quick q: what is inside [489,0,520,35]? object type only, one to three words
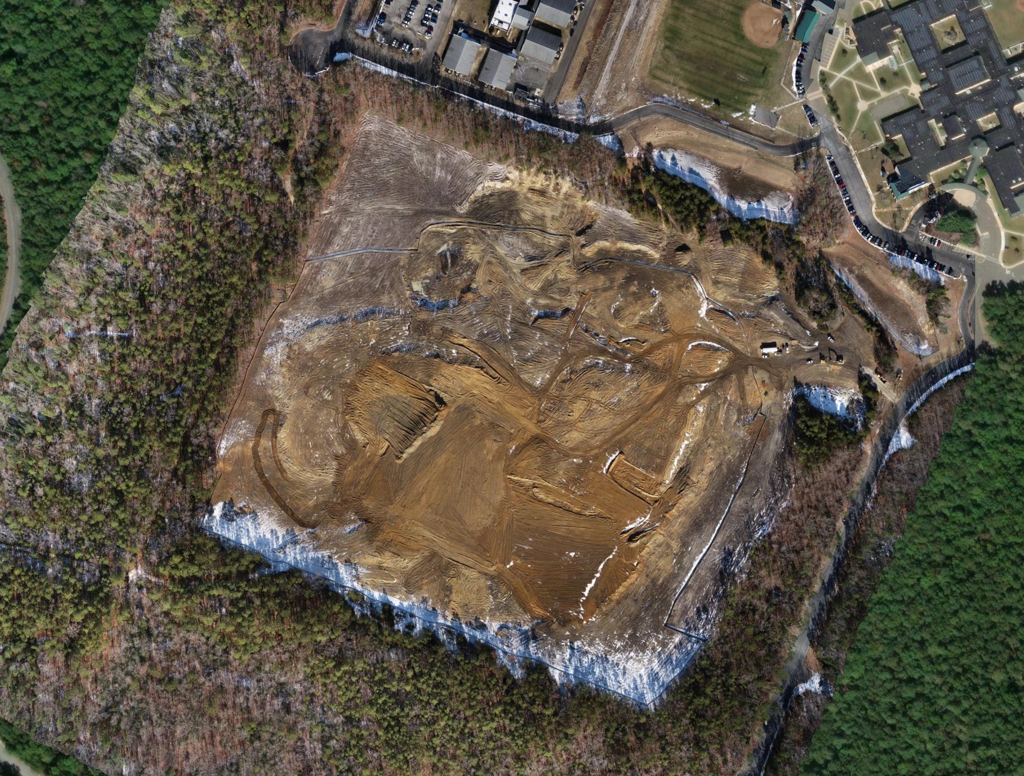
building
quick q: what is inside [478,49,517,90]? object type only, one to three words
building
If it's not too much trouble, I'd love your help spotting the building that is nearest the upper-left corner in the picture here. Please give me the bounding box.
[442,34,481,76]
